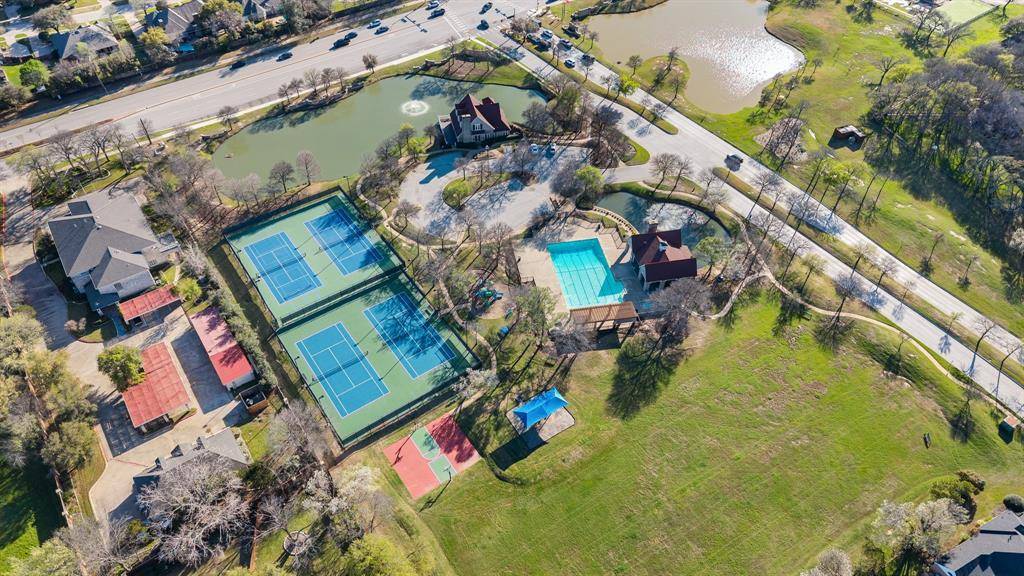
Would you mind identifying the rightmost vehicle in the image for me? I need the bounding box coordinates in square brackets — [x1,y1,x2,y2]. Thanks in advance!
[726,151,745,165]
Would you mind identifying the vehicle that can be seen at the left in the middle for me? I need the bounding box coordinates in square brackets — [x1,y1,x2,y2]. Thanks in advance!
[131,316,143,328]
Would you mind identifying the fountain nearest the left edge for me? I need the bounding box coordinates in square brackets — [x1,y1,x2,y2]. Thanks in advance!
[399,98,432,118]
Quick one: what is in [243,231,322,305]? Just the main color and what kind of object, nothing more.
blue tennis court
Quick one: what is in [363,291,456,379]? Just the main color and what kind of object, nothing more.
blue tennis court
